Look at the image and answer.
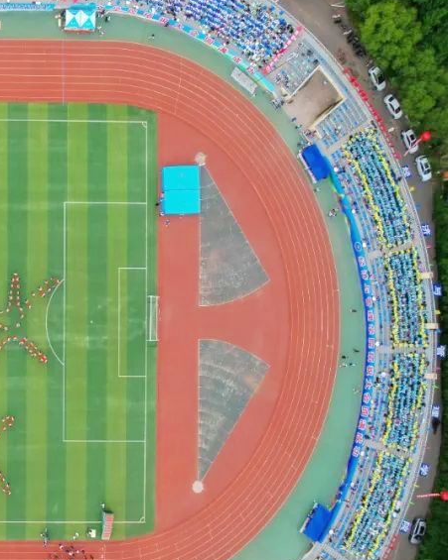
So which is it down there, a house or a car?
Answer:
car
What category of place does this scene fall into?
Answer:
sports ground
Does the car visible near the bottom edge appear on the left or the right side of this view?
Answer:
right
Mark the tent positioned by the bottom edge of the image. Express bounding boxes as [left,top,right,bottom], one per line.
[297,501,332,540]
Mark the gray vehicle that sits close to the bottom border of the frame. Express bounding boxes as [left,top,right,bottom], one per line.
[407,517,427,545]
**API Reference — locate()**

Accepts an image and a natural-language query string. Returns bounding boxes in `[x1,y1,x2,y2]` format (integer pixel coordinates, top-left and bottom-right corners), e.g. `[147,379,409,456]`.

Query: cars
[366,65,387,92]
[399,127,419,154]
[407,517,427,545]
[412,154,431,181]
[380,92,403,119]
